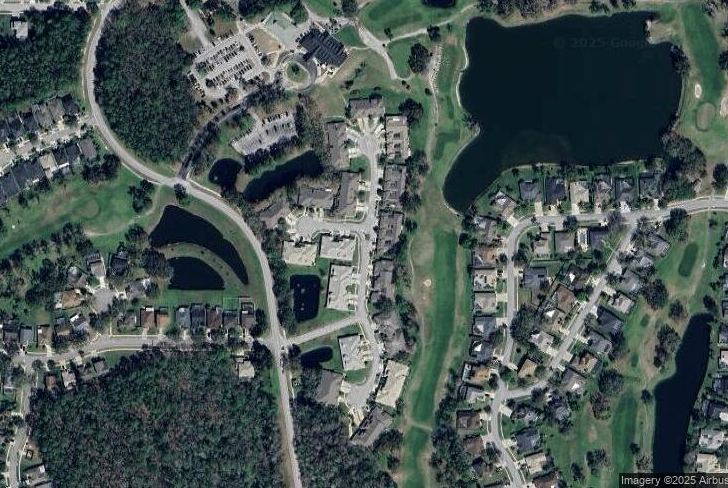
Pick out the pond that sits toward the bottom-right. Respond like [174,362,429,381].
[653,313,712,488]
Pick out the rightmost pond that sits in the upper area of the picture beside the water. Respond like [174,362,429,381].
[444,12,684,213]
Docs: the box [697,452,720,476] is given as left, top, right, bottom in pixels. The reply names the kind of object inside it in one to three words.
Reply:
house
